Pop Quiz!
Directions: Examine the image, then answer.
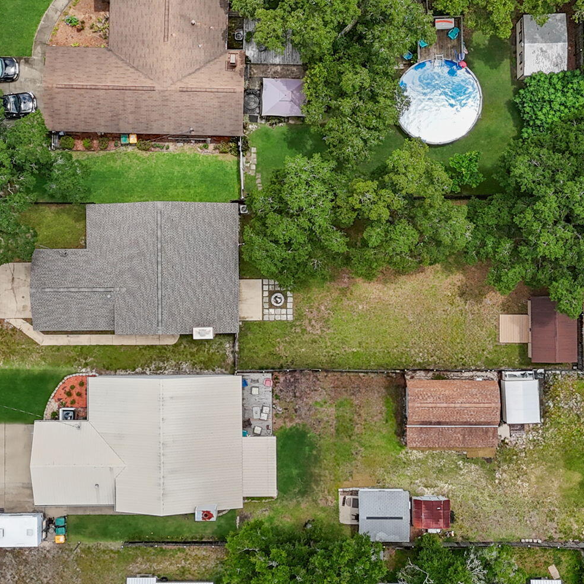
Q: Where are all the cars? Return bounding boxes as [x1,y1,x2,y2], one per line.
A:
[0,58,19,82]
[0,90,37,116]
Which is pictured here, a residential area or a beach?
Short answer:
residential area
